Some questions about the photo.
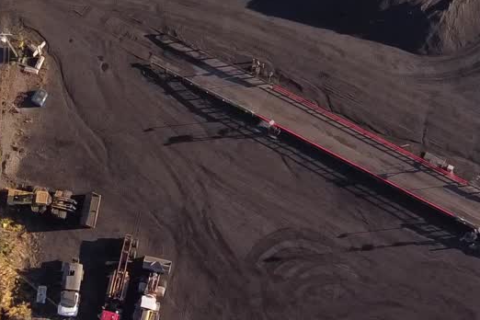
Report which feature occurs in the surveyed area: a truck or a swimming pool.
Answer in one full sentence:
There is a truck in the scene.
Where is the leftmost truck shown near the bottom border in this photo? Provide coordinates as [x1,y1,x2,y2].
[56,258,84,320]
